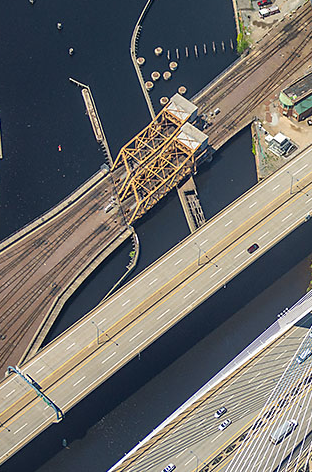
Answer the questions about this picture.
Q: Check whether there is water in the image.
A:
Yes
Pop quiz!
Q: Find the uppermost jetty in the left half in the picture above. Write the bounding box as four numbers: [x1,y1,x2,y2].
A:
[81,88,103,142]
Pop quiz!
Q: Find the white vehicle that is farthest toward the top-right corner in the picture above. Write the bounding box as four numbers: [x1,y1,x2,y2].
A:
[260,4,285,18]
